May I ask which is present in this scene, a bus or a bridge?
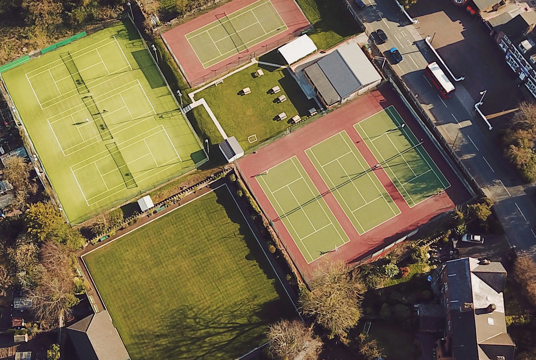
bus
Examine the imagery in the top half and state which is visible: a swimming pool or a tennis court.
tennis court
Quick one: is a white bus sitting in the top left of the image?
No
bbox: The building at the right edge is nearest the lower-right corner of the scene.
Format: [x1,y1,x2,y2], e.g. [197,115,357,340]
[417,254,512,360]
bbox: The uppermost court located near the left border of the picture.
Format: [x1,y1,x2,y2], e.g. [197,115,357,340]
[26,36,132,109]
